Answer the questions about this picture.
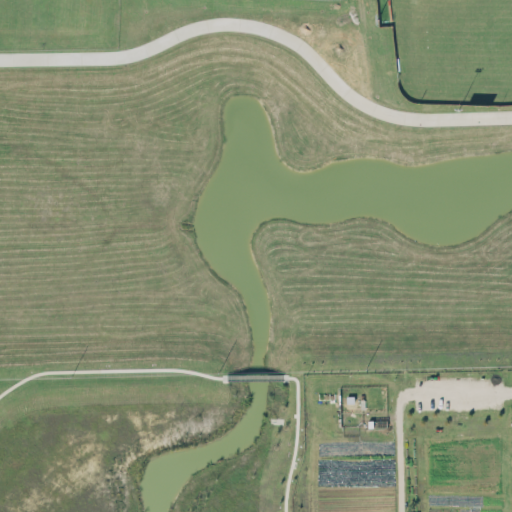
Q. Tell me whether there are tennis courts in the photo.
No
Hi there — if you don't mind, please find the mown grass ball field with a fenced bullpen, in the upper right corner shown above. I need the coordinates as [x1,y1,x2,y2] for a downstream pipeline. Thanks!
[380,0,512,105]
